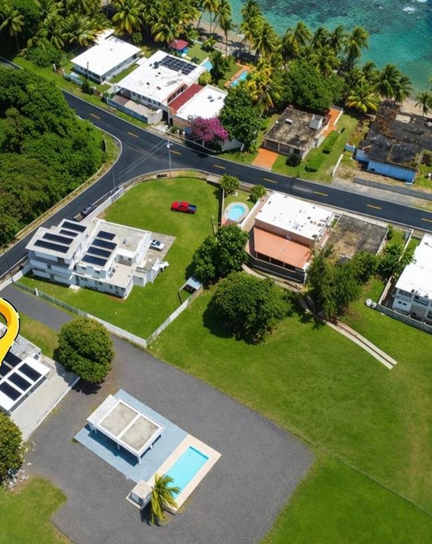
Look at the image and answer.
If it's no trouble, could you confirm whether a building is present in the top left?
Yes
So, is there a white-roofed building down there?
Yes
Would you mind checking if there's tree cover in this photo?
Yes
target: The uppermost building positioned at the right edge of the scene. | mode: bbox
[354,110,432,185]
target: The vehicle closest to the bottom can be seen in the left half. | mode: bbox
[149,236,170,250]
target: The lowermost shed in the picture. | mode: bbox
[126,480,153,510]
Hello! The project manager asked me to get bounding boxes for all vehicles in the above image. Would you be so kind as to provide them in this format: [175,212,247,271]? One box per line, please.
[149,236,170,250]
[77,202,99,217]
[170,201,198,214]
